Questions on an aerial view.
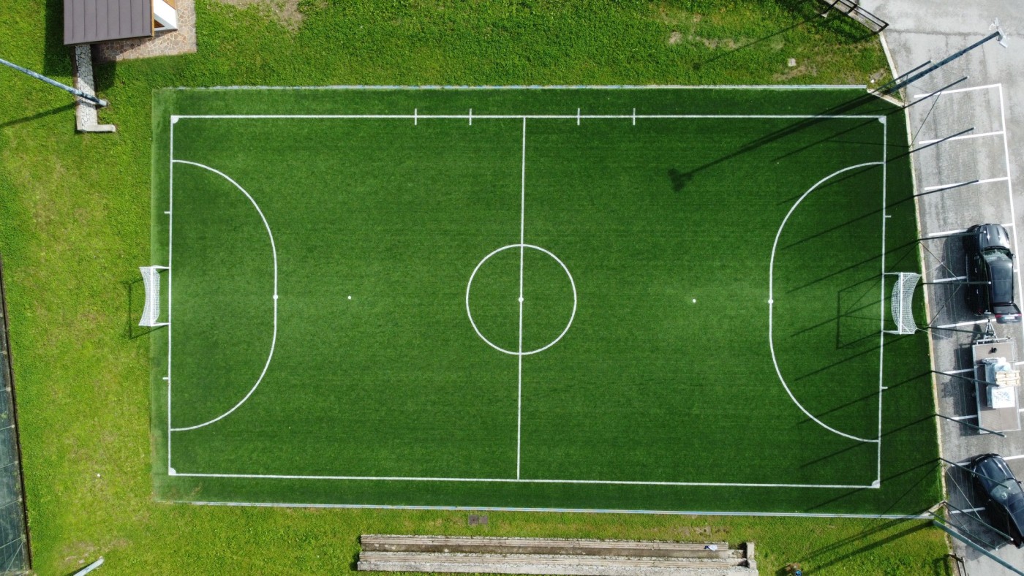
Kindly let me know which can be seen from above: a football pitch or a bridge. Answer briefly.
football pitch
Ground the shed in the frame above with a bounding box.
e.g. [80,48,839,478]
[64,0,176,46]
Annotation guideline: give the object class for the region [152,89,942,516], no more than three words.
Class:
soccer field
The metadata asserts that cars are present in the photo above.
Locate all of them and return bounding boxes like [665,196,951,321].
[961,222,1021,324]
[972,454,1024,547]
